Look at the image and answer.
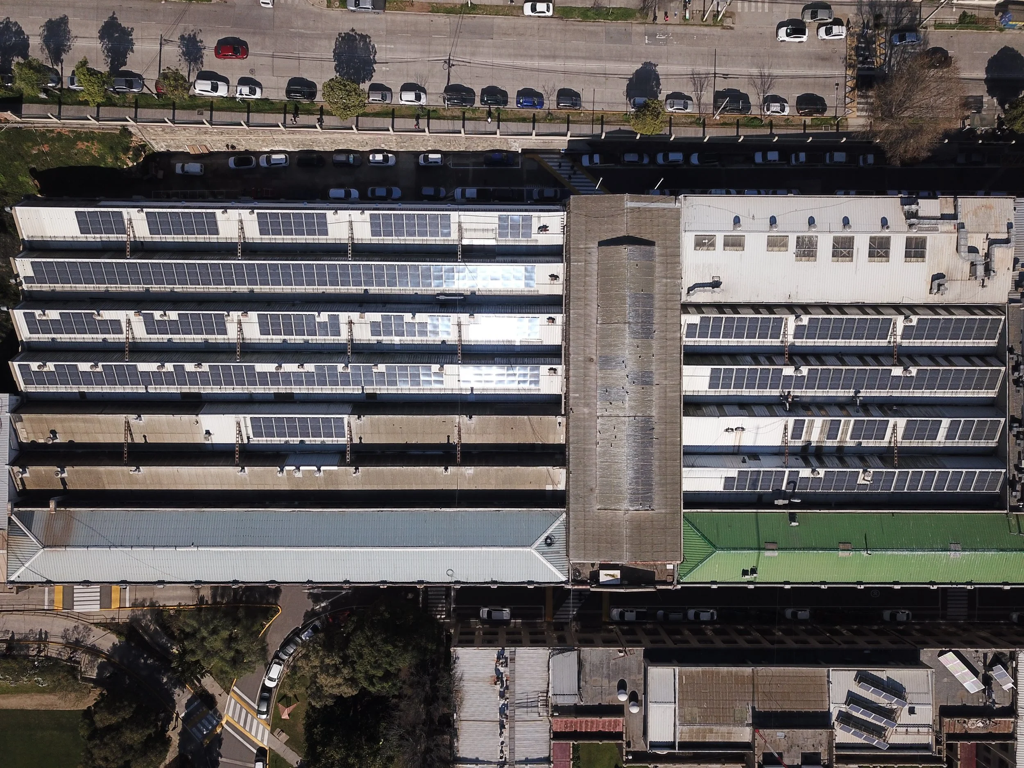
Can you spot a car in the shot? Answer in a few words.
Yes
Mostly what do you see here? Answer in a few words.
buildings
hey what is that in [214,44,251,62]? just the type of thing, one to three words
car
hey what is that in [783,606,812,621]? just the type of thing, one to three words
car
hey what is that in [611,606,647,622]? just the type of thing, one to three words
vehicle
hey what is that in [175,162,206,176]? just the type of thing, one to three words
vehicle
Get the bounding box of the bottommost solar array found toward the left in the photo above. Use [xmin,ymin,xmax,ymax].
[250,419,346,440]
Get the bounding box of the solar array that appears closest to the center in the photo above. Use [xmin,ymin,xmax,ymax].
[460,369,542,391]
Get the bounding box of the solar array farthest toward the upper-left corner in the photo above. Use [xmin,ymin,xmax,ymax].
[74,213,126,236]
